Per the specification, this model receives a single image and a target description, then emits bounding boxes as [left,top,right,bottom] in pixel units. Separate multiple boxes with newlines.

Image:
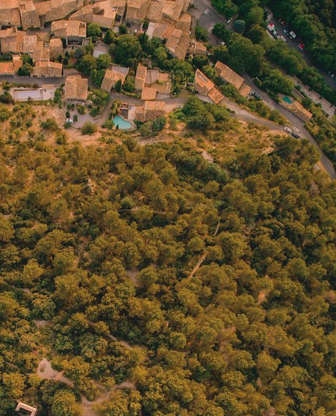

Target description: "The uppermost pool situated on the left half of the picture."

[11,85,46,103]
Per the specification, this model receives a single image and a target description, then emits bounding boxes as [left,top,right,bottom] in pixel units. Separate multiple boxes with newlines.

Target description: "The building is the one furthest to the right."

[285,98,315,123]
